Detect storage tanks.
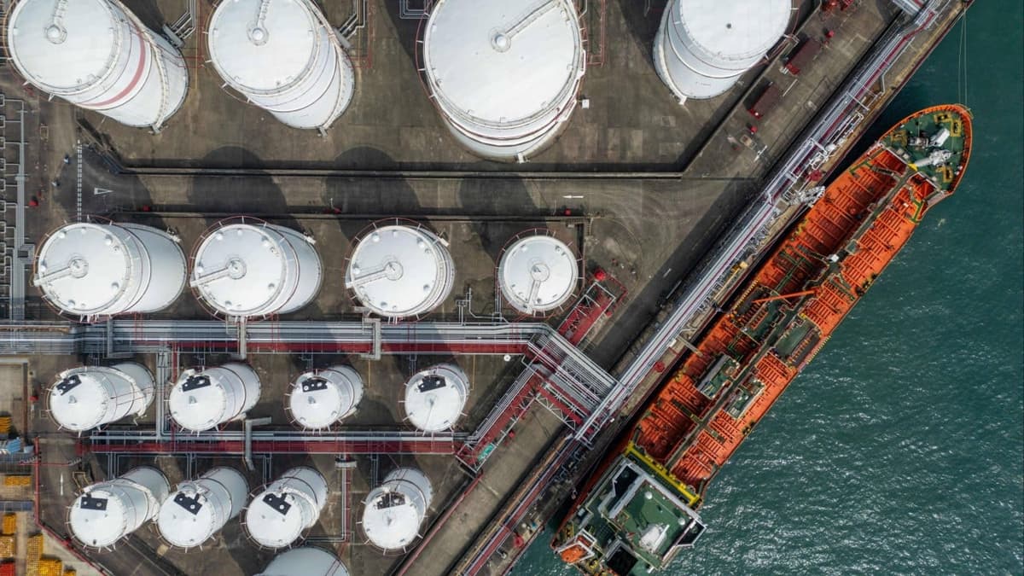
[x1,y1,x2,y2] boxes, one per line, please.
[399,361,473,437]
[3,0,190,133]
[242,465,329,551]
[491,226,585,320]
[185,216,323,324]
[154,461,250,551]
[651,0,798,101]
[357,461,433,553]
[28,215,187,322]
[165,362,263,436]
[254,547,346,576]
[344,217,454,325]
[285,364,368,435]
[203,0,355,135]
[41,362,156,435]
[64,465,173,551]
[417,0,589,165]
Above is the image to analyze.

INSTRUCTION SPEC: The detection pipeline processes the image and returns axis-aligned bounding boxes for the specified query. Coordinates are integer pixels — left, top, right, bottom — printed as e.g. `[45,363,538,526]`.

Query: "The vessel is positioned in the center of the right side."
[551,100,972,576]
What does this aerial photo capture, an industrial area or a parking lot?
industrial area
